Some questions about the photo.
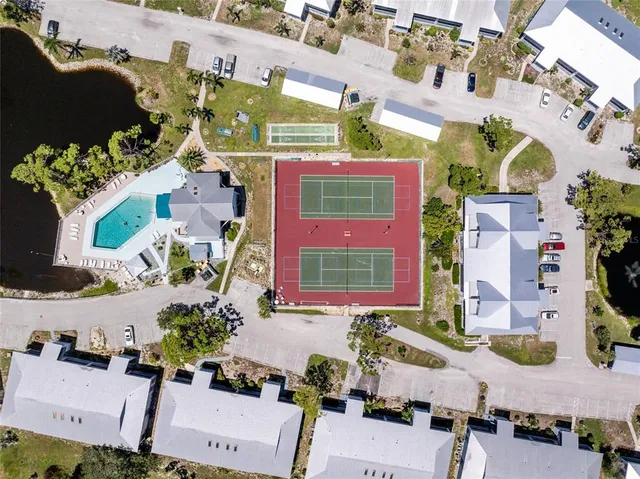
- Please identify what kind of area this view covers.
residential area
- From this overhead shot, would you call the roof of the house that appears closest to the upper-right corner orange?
No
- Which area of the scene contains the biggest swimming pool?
left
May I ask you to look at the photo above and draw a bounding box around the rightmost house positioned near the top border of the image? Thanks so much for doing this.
[518,0,640,114]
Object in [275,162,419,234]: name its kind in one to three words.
tennis court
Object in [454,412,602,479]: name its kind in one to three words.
house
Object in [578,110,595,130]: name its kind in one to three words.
car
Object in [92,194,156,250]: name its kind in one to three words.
swimming pool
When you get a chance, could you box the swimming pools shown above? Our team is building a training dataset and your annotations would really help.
[92,194,156,250]
[157,192,171,218]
